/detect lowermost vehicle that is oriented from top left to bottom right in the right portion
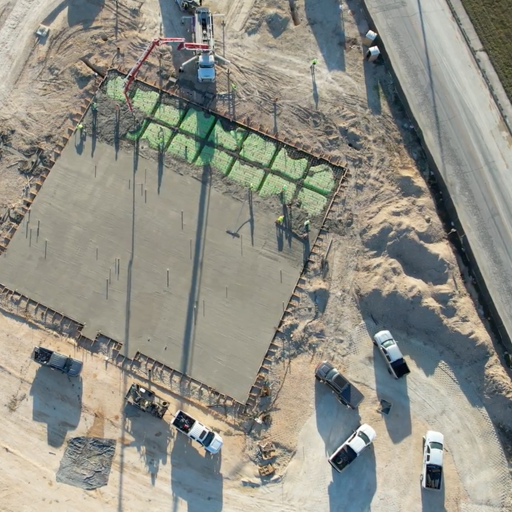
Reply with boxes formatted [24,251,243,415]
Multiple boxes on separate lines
[313,362,364,410]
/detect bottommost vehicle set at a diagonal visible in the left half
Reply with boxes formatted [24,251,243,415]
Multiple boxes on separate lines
[170,409,223,453]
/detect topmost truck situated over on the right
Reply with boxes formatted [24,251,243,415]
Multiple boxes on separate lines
[373,331,412,379]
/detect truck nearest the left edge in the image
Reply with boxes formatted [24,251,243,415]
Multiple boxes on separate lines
[31,345,84,378]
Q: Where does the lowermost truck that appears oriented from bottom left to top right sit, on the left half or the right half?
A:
right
